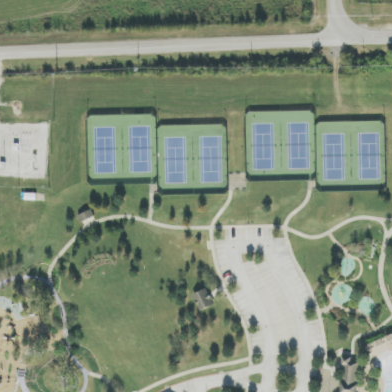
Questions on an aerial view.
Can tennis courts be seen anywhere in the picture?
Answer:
Yes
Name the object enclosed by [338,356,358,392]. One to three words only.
building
